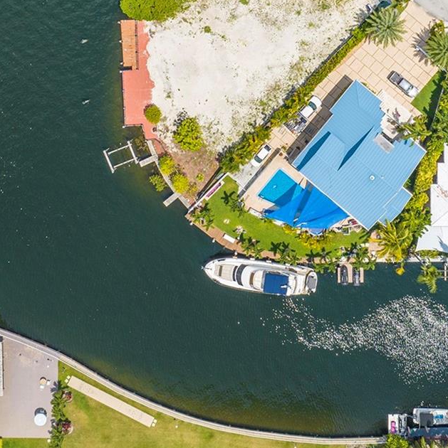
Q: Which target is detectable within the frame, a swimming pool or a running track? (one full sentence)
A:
Visible in the photo is a swimming pool.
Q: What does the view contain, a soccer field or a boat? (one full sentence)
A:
Looking from above, you can make out a boat.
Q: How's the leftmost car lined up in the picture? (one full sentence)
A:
From this overhead view, the leftmost car appears to run diagonally.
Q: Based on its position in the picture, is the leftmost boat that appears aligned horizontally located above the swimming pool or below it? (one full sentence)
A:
Within the scene, the leftmost boat that appears aligned horizontally can be found below the swimming pool.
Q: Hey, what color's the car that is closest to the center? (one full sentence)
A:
The car that is closest to the center is white.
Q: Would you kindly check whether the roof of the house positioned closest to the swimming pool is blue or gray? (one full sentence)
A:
The color of the roof of the house positioned closest to the swimming pool is blue.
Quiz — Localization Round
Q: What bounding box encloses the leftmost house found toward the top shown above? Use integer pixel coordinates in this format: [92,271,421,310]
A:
[292,80,425,229]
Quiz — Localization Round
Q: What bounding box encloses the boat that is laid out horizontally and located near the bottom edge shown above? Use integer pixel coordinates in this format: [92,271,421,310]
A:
[409,408,448,426]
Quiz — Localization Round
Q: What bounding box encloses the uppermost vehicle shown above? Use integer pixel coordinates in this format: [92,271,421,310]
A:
[387,70,419,98]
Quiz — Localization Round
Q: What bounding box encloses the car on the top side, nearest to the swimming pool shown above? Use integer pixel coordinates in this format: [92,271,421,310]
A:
[249,142,273,168]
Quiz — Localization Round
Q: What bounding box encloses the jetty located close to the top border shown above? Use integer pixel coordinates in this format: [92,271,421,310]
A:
[118,20,137,70]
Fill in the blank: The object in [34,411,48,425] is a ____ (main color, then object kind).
white umbrella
